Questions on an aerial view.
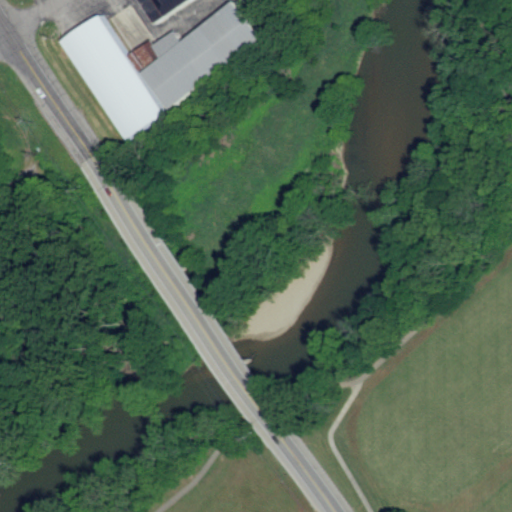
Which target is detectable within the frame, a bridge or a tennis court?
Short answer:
bridge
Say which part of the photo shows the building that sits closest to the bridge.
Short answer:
top left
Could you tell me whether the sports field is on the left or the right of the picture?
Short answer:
right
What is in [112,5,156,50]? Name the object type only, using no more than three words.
building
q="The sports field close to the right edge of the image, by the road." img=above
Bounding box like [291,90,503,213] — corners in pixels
[346,249,512,512]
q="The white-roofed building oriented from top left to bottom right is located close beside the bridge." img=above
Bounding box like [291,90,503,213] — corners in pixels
[59,14,166,142]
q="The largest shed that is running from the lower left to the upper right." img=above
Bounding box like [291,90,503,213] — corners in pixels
[142,2,256,109]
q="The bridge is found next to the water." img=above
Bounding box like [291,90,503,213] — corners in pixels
[80,153,276,425]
